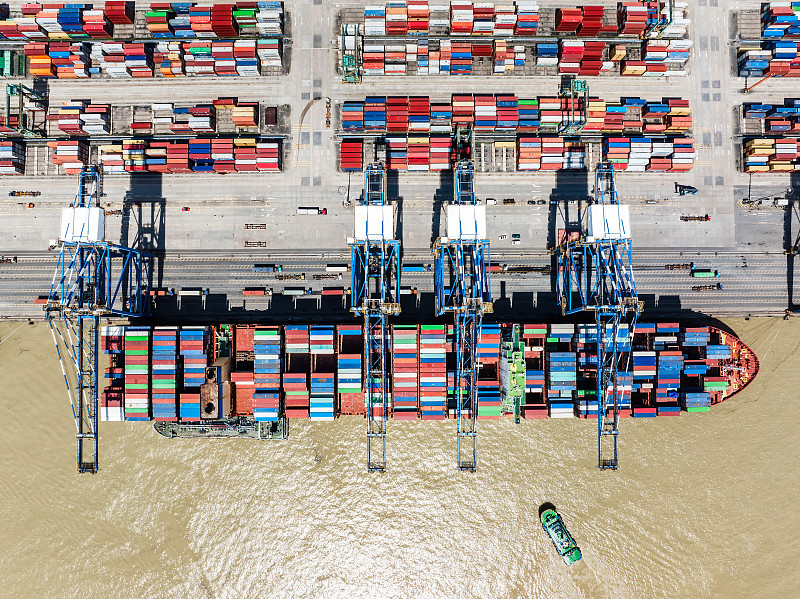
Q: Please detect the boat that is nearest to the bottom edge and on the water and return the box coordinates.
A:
[541,501,581,566]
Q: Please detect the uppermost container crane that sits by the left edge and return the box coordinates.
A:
[0,24,30,84]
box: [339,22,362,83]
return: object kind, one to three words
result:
container crane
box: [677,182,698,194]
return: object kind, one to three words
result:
vehicle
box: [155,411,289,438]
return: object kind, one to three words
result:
ship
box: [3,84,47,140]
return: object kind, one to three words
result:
container crane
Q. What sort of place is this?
port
